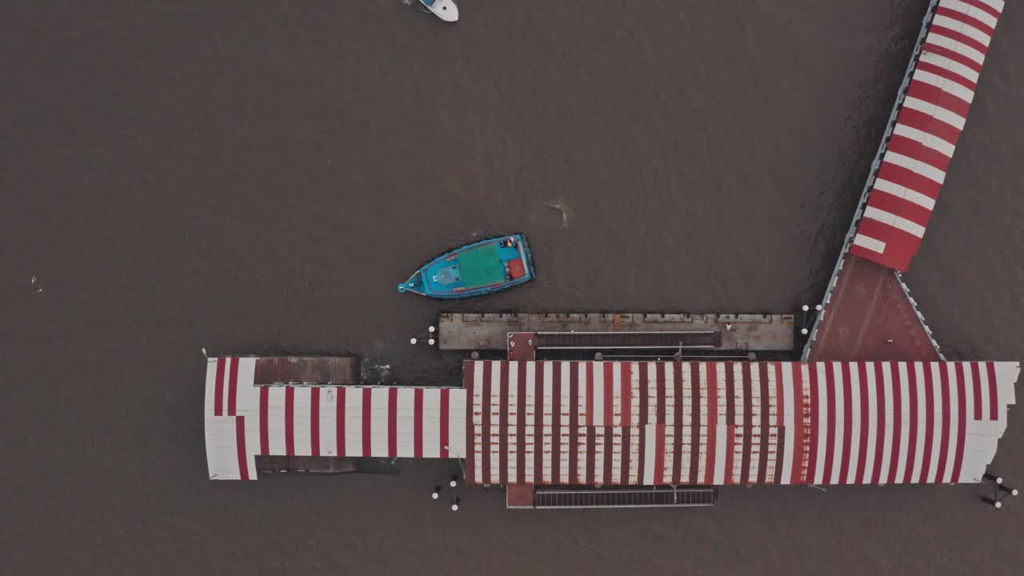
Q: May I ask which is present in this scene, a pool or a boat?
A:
boat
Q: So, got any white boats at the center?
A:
No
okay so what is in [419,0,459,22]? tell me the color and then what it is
white boat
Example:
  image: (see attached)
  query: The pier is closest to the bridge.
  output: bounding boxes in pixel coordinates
[438,311,794,350]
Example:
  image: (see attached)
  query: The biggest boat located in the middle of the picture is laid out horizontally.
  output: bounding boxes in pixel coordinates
[398,233,536,301]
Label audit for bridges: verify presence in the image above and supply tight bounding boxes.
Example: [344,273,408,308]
[794,0,967,362]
